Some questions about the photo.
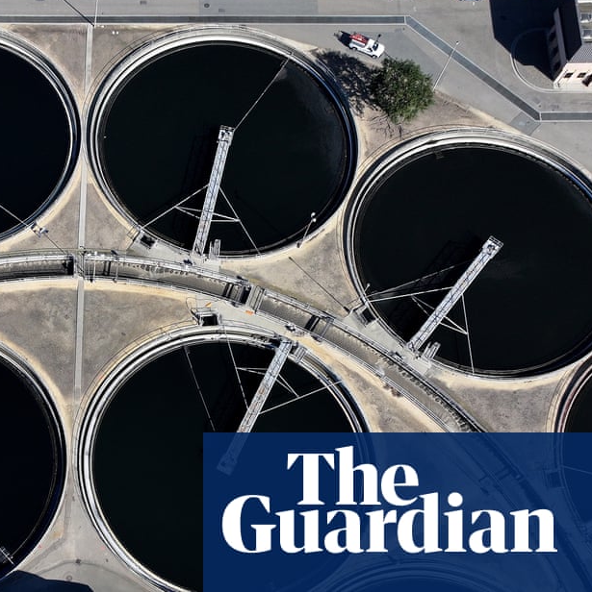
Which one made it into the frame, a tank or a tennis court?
tank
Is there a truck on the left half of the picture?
No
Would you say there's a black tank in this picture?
Yes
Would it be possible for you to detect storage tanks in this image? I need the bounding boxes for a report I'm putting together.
[85,20,362,262]
[339,123,592,385]
[0,24,85,241]
[73,318,386,592]
[548,354,592,554]
[0,335,72,587]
